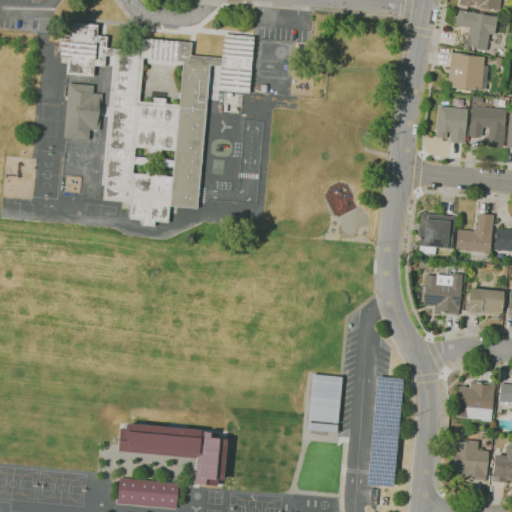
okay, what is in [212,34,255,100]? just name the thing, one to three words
building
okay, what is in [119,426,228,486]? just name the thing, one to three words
building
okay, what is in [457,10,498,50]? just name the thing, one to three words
house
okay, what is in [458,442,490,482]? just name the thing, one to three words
house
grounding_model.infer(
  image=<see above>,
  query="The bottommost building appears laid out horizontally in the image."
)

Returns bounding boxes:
[116,480,178,509]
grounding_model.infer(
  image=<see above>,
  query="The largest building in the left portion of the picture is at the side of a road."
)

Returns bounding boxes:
[102,39,222,226]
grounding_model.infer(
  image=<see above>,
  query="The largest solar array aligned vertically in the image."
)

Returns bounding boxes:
[368,377,402,486]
